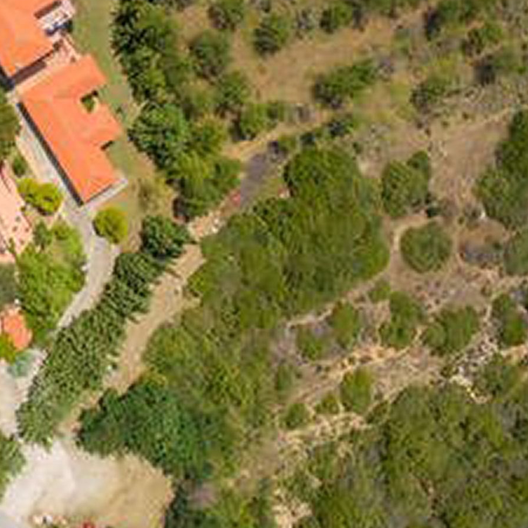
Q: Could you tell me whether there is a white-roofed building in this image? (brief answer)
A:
No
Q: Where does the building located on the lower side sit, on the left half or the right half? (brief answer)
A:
left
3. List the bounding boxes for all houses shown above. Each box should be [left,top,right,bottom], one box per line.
[19,54,123,203]
[0,0,53,76]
